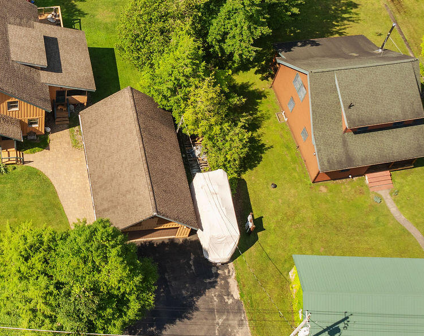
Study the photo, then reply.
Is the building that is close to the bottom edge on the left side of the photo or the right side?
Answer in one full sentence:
The building that is close to the bottom edge sits on the right side.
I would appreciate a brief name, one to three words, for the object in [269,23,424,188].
house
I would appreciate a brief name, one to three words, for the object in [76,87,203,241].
building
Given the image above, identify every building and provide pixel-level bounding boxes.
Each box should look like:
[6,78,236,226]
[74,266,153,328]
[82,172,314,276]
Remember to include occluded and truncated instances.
[288,255,424,336]
[269,23,424,188]
[0,0,96,169]
[76,87,203,241]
